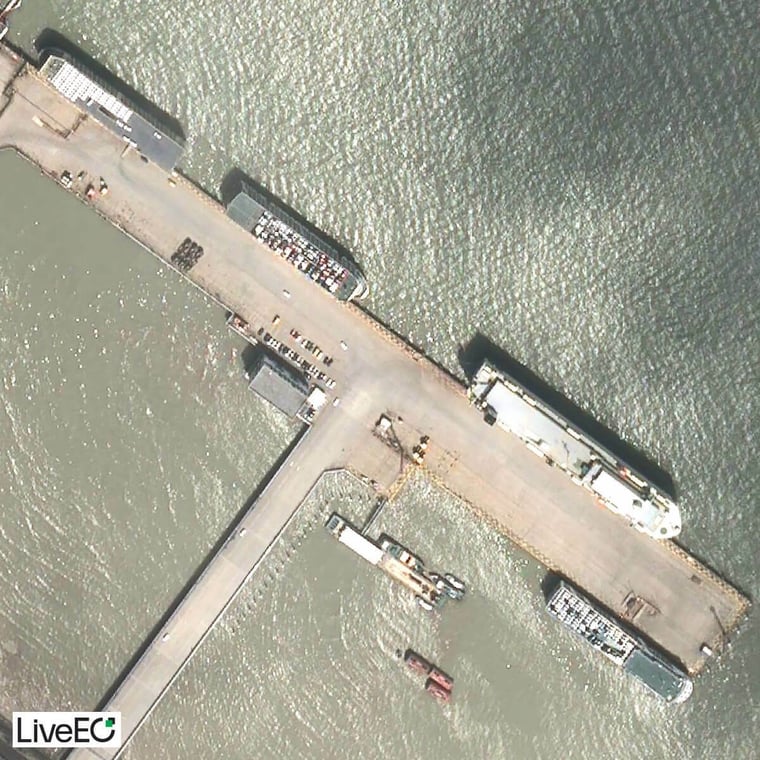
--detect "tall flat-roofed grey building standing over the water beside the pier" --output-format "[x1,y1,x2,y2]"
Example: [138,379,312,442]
[248,354,309,418]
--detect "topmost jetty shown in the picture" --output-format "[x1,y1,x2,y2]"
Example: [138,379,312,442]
[0,42,24,110]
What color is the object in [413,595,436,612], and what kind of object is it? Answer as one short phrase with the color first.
white boat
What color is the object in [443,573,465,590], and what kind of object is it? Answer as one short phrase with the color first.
white boat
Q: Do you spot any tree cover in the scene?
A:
No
